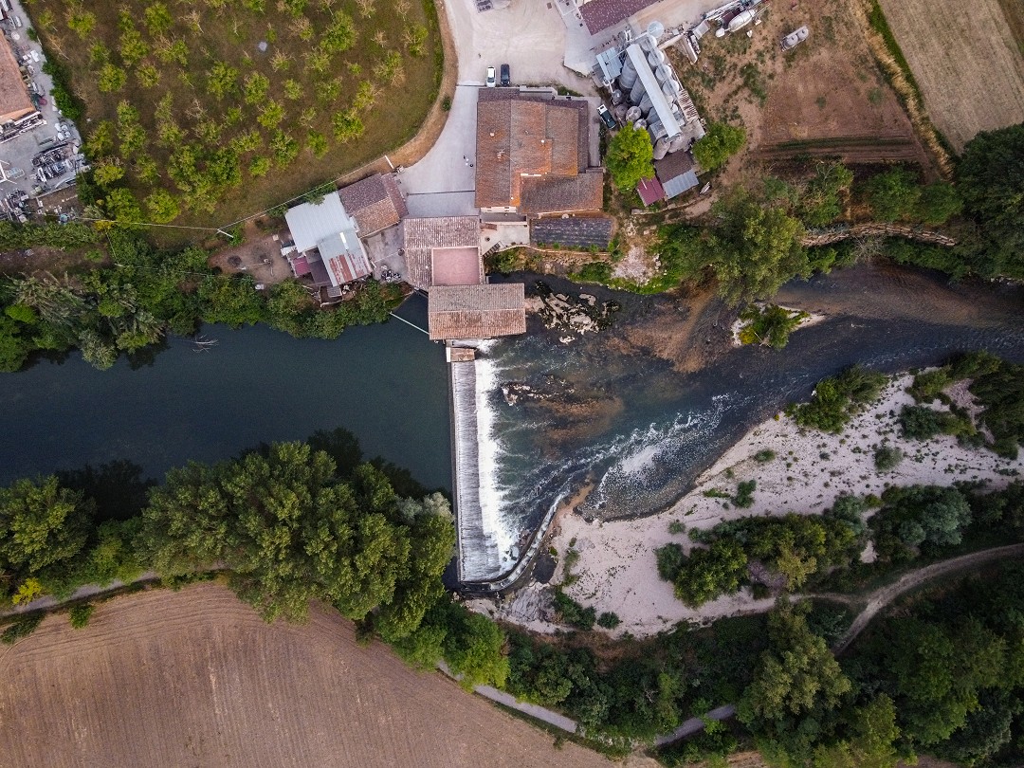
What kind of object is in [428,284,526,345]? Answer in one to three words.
house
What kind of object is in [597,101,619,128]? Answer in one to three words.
truck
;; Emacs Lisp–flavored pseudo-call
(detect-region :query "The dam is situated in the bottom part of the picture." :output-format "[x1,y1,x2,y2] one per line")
[449,361,500,579]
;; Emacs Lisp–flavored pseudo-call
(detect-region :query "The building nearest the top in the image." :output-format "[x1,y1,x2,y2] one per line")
[574,0,669,39]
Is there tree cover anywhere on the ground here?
Yes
